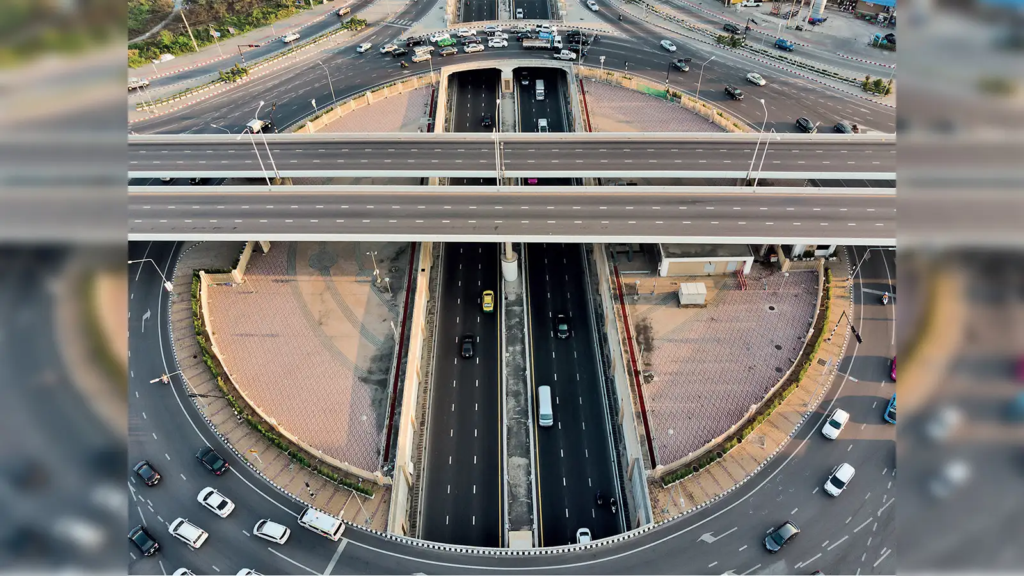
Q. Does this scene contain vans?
Yes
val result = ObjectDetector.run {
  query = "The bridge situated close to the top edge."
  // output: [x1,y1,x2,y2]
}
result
[393,22,620,97]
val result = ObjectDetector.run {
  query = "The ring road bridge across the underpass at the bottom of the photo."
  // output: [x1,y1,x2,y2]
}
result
[387,520,651,552]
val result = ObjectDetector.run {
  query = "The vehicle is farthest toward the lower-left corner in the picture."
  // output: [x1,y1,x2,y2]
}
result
[126,525,162,559]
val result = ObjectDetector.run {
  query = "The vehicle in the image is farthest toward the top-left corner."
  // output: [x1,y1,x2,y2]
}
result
[122,79,148,91]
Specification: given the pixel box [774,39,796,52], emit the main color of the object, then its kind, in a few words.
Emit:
blue vehicle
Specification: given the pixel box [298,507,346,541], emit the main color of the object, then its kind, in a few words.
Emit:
white van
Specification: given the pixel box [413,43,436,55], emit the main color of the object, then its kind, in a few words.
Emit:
white vehicle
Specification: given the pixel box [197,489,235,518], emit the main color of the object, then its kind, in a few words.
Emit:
white car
